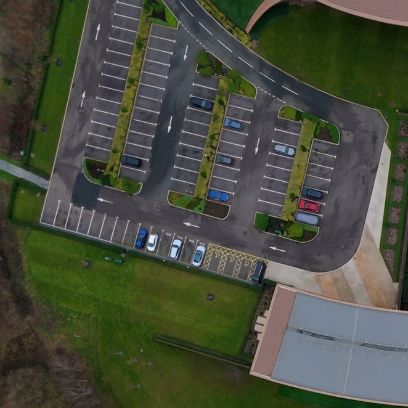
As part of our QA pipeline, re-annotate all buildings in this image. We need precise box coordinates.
[250,284,408,406]
[314,0,408,27]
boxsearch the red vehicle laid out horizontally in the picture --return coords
[299,200,320,213]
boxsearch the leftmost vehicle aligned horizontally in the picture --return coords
[121,155,143,168]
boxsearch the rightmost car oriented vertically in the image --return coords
[253,260,266,283]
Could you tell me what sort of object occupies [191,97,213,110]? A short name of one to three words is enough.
vehicle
